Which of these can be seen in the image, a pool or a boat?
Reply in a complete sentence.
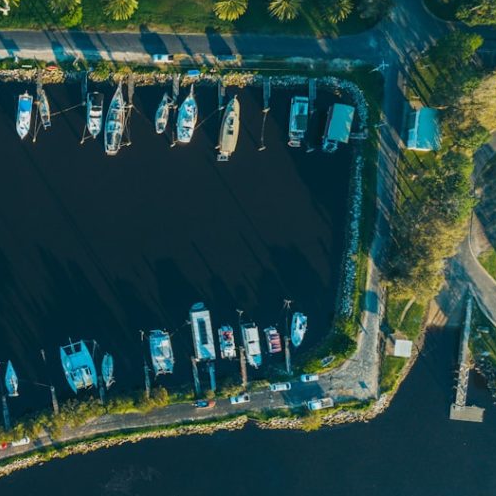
I can see a boat in this picture.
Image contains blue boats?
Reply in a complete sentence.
Yes, the image includes a blue boat.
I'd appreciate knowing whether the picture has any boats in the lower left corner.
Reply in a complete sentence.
Yes, there is a boat in the lower left corner.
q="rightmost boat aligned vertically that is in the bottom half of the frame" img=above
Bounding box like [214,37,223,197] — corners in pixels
[292,311,309,348]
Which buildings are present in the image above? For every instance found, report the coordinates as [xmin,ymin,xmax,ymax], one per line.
[388,339,411,358]
[401,108,447,152]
